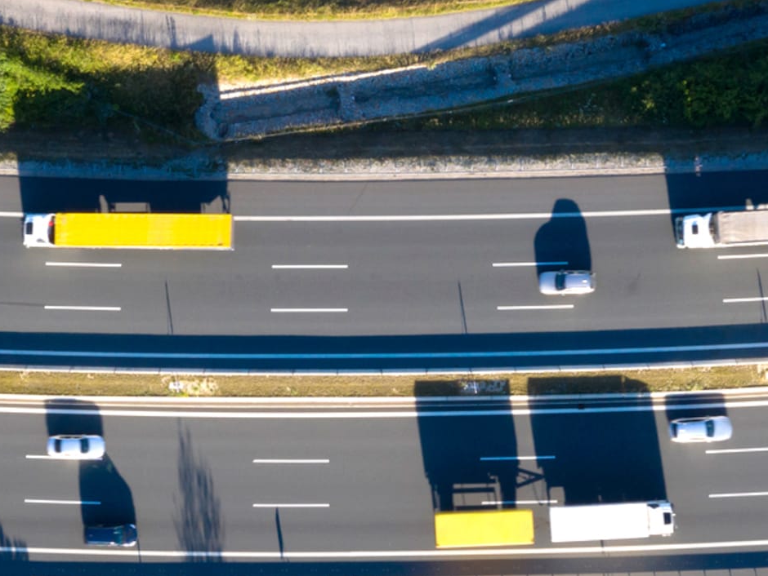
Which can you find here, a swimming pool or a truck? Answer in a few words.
truck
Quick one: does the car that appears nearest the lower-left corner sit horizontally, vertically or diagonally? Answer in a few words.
horizontally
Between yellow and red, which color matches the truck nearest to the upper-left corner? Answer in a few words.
yellow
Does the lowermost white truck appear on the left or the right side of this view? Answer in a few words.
right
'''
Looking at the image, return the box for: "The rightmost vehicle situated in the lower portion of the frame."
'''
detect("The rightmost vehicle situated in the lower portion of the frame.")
[672,415,733,442]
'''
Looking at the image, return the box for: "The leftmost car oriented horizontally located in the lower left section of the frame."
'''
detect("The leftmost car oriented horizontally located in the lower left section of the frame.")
[48,434,106,461]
